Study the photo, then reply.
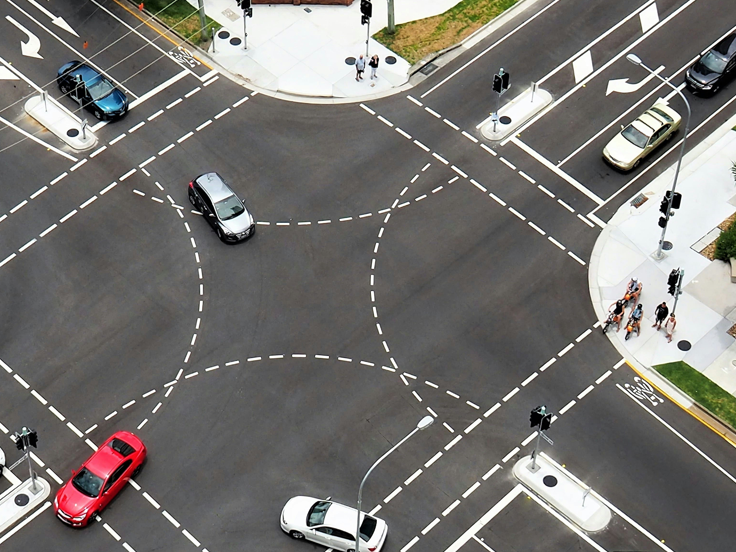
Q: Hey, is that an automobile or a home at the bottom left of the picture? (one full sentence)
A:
There is an automobile at the bottom left of the picture.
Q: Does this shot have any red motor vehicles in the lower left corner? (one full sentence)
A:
Yes, in the lower left corner there is a red motor vehicle.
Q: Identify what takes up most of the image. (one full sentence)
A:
For the most part, this view shows paved ground.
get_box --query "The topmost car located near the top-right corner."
[683,30,736,95]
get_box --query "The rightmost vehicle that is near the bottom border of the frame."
[277,495,391,552]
